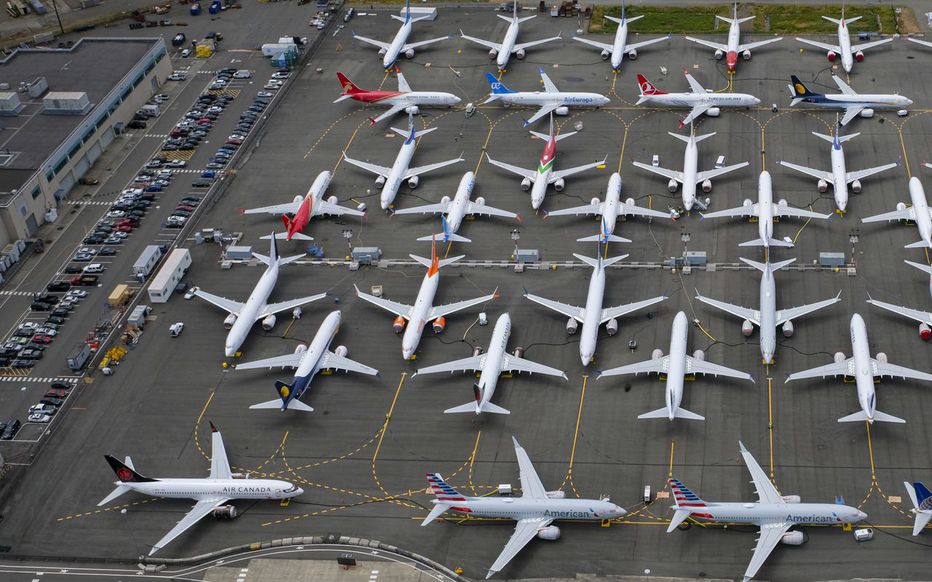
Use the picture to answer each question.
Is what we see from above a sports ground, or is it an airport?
airport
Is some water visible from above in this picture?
No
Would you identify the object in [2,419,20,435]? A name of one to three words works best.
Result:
car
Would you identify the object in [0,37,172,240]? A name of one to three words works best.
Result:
building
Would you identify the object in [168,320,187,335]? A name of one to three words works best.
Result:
vehicle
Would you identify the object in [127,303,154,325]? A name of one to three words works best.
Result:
truck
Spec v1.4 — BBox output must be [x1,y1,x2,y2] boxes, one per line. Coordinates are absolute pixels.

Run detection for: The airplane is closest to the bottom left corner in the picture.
[94,419,302,558]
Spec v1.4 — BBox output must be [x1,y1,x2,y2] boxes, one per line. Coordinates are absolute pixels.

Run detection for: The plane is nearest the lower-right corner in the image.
[902,481,932,536]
